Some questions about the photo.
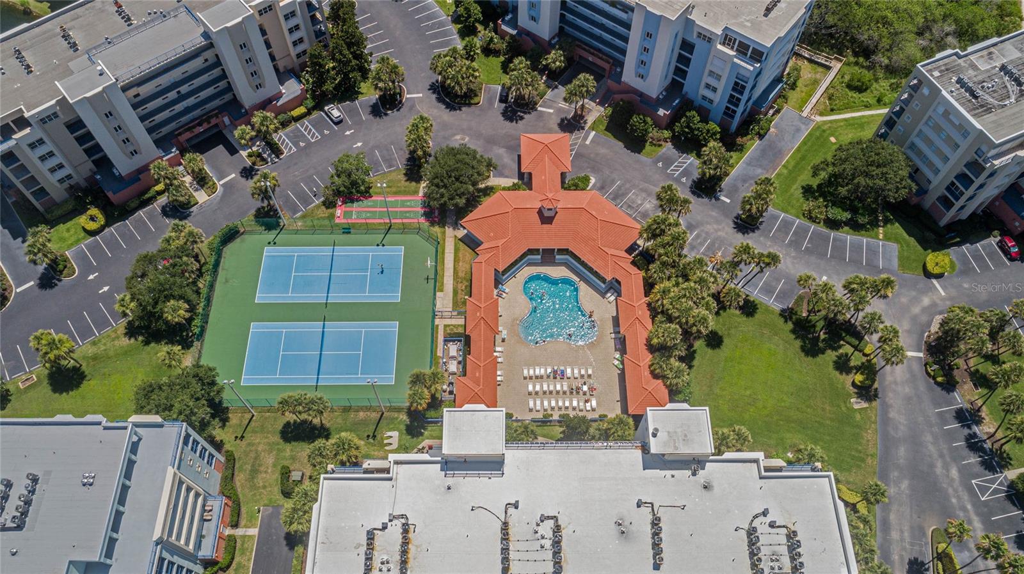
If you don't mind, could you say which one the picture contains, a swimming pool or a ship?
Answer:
swimming pool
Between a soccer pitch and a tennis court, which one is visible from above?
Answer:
tennis court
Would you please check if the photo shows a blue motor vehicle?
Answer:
No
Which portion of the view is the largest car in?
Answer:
right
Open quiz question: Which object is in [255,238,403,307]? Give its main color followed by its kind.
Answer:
blue tennis court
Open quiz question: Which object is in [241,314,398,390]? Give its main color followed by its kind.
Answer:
blue tennis court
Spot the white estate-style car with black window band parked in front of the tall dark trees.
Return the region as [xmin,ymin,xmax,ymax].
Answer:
[325,106,344,125]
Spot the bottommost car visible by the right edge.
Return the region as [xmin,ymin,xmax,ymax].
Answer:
[997,237,1023,262]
